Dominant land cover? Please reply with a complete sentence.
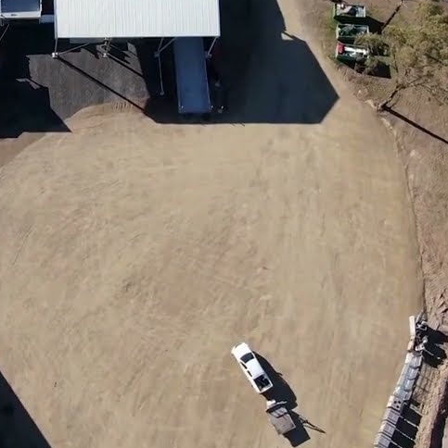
What you mostly see from above here is paved ground.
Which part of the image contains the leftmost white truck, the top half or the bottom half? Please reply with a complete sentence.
The leftmost white truck sits in the bottom half of the picture.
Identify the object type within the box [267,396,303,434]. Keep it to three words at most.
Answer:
trailer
